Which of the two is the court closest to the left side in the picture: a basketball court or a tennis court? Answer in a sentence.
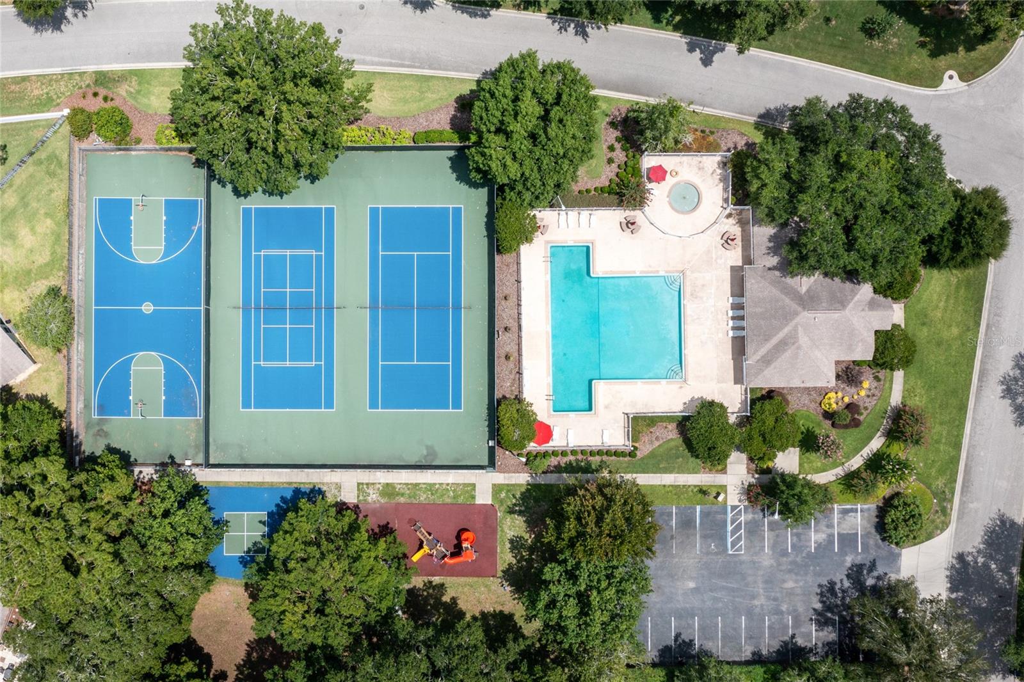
The court closest to the left side is a basketball court.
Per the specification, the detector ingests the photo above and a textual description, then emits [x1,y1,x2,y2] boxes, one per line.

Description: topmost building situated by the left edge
[0,314,44,392]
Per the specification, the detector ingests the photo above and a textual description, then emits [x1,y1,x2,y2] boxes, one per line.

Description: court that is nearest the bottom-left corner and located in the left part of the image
[198,486,325,580]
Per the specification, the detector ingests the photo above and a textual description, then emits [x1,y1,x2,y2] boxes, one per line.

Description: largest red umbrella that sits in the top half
[649,164,667,183]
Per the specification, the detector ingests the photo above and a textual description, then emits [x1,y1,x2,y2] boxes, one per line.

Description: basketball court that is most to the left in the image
[84,151,204,465]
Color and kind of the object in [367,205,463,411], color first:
blue tennis court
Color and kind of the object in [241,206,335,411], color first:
blue tennis court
